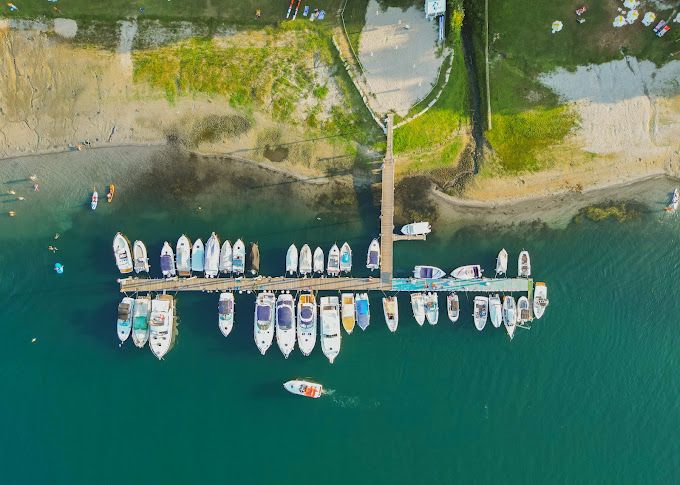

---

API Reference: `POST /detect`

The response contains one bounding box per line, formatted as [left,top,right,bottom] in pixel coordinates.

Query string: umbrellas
[624,9,639,22]
[610,15,625,29]
[550,21,562,33]
[622,0,637,10]
[639,12,654,25]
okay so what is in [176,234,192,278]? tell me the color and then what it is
white boat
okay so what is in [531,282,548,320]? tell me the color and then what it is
white boat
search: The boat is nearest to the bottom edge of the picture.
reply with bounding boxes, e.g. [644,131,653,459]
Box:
[282,379,323,397]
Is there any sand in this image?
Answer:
Yes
